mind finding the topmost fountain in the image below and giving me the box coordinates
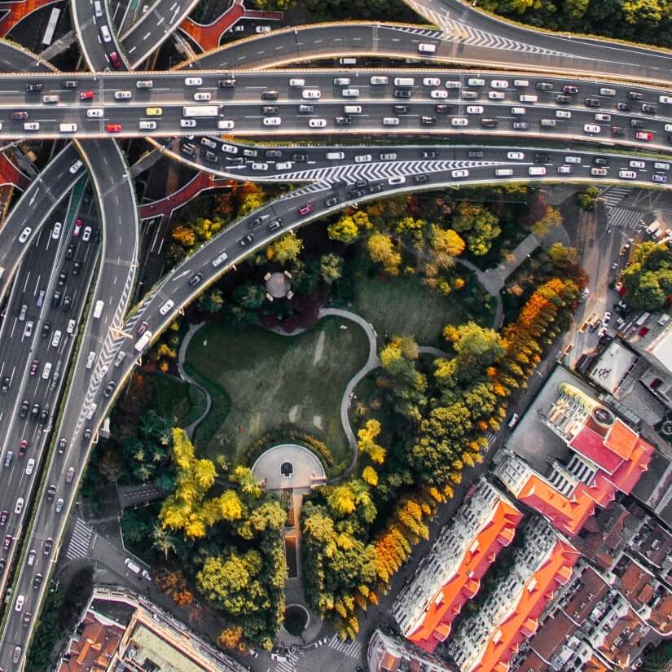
[278,462,296,480]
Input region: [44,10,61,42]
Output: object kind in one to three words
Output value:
vehicle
